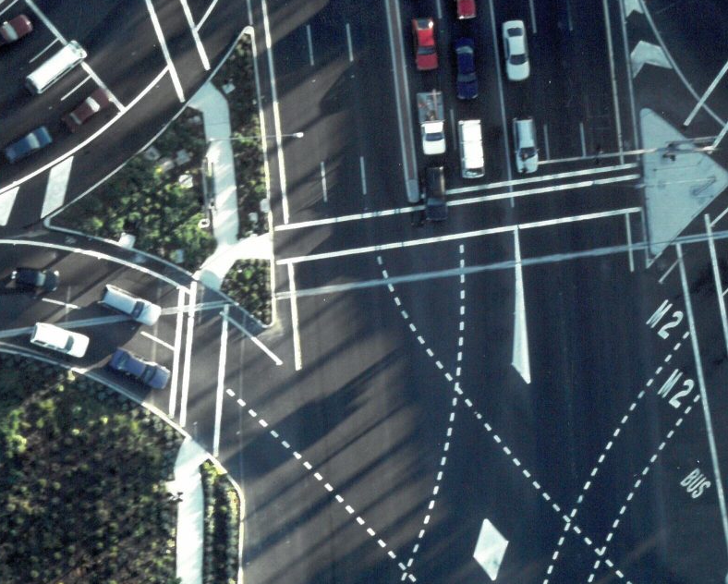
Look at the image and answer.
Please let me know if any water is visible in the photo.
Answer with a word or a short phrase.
No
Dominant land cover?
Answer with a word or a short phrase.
paved ground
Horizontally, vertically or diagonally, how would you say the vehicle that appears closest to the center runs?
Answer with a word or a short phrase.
vertically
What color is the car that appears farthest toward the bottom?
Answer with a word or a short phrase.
blue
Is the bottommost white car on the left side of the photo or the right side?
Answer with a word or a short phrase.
left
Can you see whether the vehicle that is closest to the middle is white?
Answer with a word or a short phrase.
No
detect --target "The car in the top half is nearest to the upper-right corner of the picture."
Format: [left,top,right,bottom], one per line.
[502,20,530,81]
